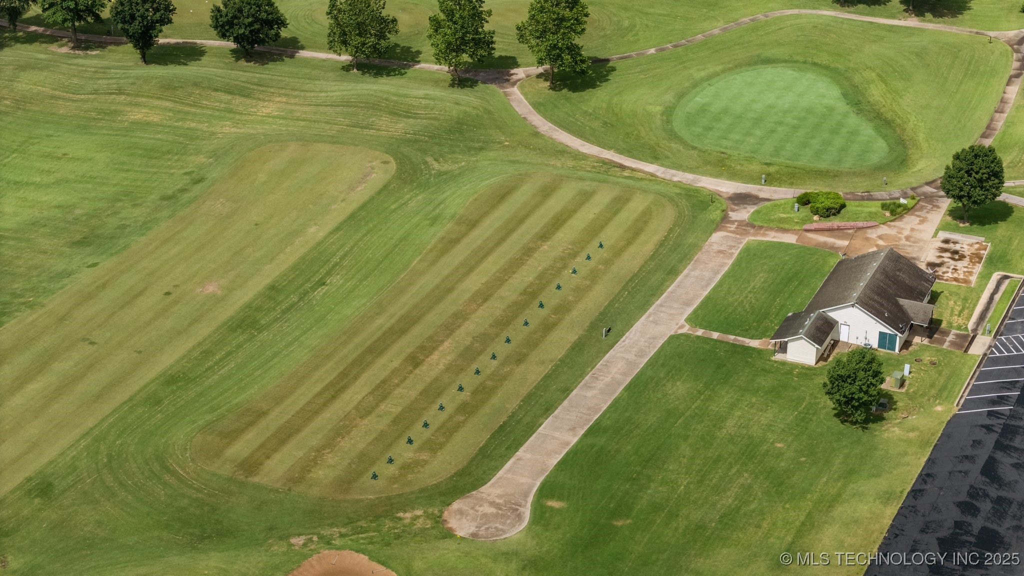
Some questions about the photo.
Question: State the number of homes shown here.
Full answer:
Just 1 home appears in this view.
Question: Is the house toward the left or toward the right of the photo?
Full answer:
The house sits on the right side.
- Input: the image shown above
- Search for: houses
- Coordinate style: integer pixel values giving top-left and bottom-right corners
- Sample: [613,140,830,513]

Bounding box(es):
[770,248,940,366]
